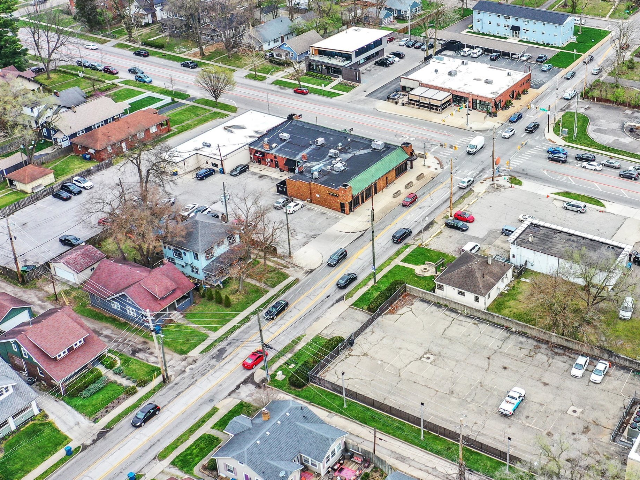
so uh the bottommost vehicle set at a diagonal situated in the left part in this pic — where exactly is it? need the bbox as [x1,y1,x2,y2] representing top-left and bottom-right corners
[130,402,161,429]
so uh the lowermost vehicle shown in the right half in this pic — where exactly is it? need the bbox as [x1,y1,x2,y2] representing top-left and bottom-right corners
[498,387,525,418]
